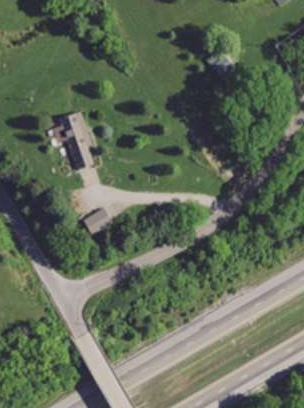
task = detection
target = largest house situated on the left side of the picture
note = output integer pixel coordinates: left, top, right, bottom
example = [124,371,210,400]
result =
[56,113,94,170]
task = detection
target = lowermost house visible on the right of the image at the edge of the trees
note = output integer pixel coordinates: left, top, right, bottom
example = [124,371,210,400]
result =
[204,54,236,83]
